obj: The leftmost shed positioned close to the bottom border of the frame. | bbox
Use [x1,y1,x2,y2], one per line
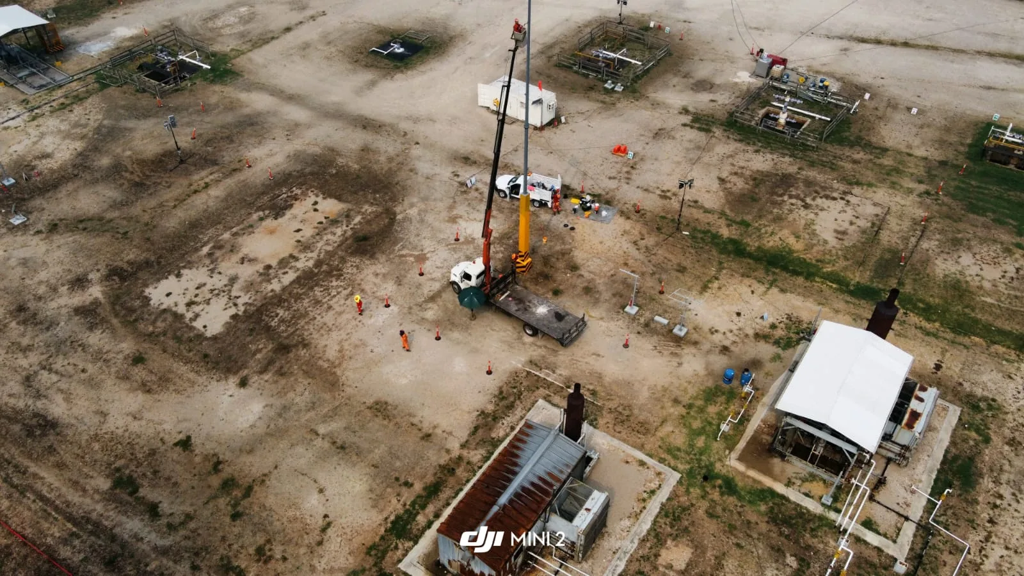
[437,418,592,576]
